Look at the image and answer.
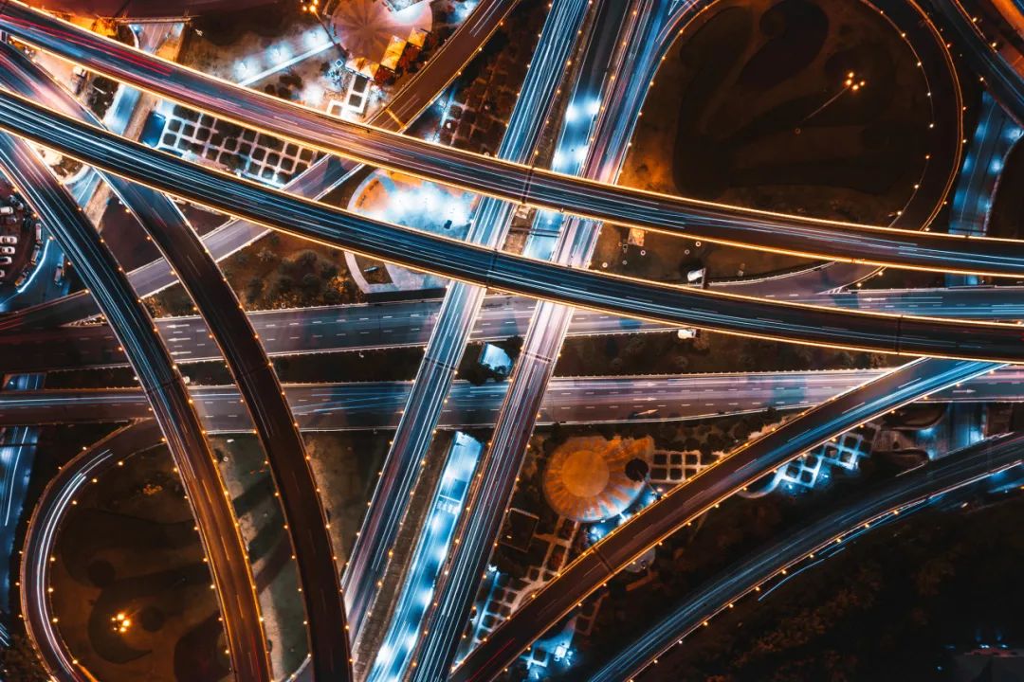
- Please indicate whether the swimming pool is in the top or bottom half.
top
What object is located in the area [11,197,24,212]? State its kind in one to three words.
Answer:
vehicle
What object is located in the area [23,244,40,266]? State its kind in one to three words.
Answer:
vehicle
